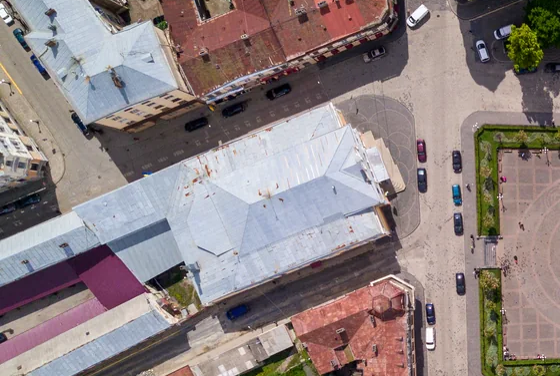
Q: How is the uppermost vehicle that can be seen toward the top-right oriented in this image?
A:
at an angle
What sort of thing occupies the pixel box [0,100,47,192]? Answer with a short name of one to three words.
building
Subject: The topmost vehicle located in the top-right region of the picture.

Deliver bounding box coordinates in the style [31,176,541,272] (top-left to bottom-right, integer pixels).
[404,5,430,28]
